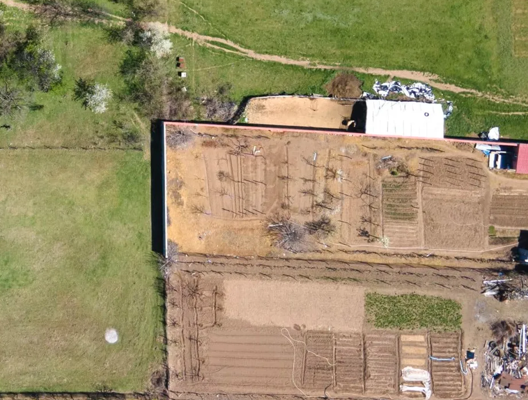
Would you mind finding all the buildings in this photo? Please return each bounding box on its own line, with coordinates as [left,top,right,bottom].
[358,100,444,138]
[507,144,528,174]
